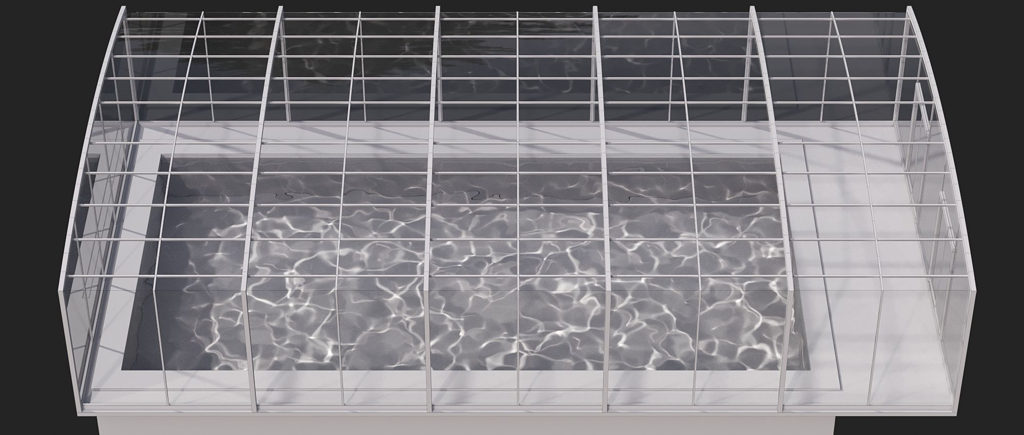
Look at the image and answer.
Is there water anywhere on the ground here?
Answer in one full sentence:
Yes, the picture does contain water.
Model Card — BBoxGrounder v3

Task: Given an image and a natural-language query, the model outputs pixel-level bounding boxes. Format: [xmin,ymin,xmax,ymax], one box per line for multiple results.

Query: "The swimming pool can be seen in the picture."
[92,139,840,435]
